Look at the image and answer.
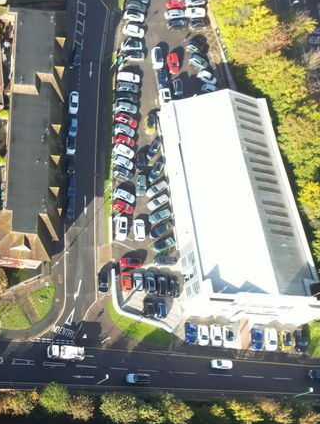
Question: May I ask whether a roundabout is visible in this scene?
No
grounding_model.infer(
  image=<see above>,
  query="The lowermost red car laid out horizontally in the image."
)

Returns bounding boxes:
[119,256,143,268]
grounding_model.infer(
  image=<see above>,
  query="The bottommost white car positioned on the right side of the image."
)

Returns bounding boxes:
[208,358,232,370]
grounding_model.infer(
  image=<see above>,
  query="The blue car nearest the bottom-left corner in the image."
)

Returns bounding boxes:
[124,372,151,384]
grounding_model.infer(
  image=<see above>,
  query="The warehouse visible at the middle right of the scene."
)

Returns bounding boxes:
[159,89,320,326]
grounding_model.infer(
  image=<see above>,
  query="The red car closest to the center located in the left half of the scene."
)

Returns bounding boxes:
[110,199,134,216]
